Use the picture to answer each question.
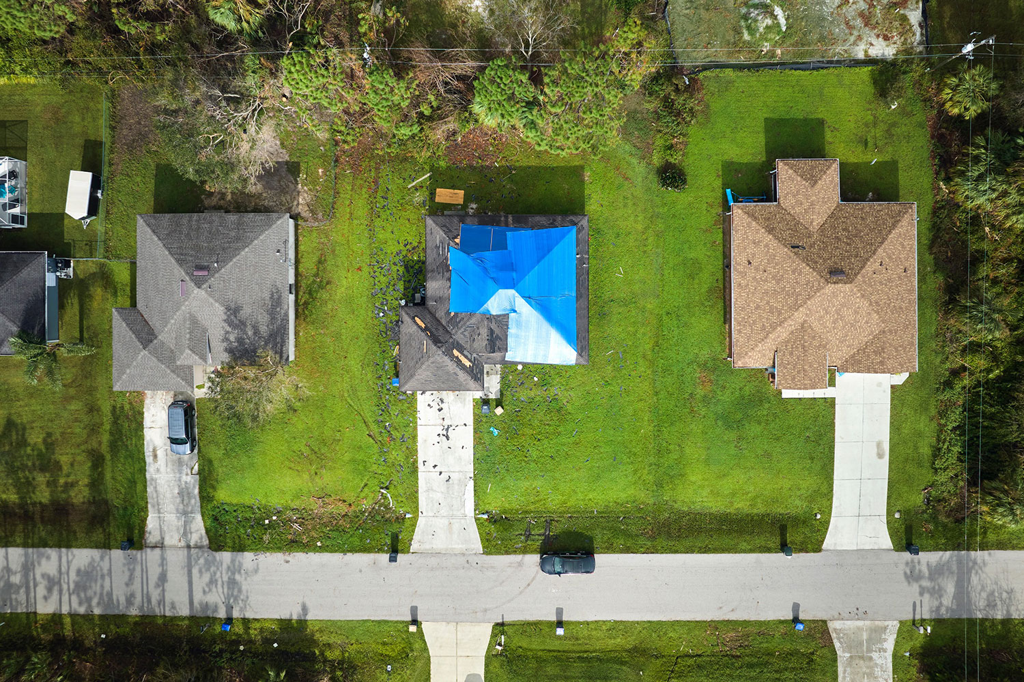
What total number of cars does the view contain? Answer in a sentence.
The picture shows 2 cars.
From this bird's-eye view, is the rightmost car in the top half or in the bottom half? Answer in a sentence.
The rightmost car sits in the bottom half of the picture.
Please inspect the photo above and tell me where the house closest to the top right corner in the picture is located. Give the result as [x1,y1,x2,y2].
[716,158,918,388]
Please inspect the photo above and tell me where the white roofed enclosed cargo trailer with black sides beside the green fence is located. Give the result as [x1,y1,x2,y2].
[59,171,103,235]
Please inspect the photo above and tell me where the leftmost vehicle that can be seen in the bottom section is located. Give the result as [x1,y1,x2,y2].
[165,400,195,454]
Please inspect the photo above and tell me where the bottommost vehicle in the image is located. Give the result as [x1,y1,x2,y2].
[540,551,594,579]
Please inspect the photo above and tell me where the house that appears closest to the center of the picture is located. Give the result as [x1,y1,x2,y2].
[399,215,588,392]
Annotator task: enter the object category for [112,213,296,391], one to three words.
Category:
house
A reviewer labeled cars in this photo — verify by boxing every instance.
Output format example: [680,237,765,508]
[540,551,594,579]
[165,400,195,454]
